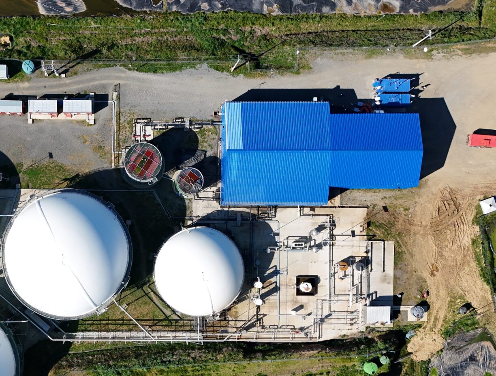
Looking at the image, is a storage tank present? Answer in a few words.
Yes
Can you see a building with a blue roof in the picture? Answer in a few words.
Yes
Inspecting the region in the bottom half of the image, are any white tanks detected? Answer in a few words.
Yes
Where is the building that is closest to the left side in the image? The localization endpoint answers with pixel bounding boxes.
[0,99,24,118]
